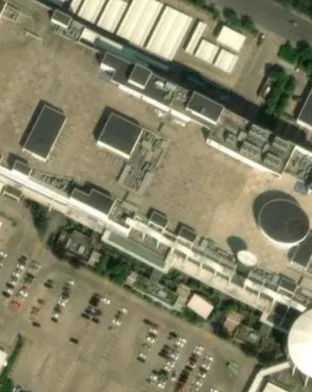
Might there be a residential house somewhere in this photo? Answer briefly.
Yes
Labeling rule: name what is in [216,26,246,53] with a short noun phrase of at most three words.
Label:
shed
